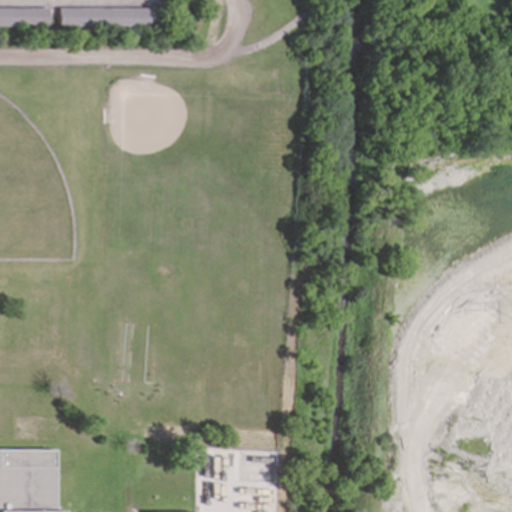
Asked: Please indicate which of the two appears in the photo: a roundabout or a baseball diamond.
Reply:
baseball diamond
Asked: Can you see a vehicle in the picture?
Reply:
No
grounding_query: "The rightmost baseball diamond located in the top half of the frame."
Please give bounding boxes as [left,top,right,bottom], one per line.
[109,78,281,259]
